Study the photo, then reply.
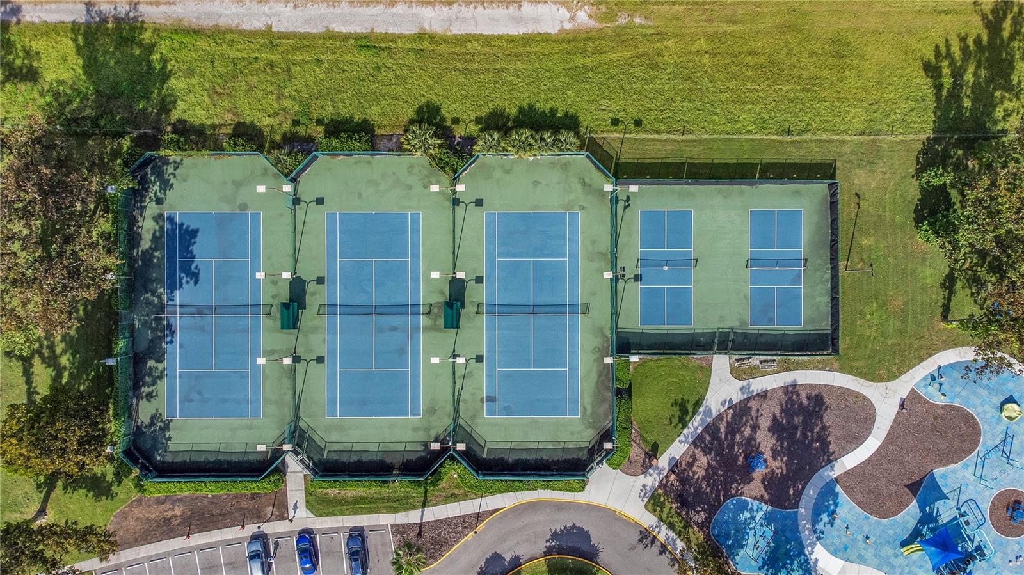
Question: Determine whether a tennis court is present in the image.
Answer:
Yes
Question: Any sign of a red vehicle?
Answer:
No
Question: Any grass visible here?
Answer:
Yes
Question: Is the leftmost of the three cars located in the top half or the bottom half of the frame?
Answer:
bottom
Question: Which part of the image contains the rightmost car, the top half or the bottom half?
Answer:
bottom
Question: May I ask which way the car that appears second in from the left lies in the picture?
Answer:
from top to bottom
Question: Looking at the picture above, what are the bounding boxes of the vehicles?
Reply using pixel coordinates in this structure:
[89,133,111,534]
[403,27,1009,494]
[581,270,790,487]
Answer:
[343,533,367,575]
[296,534,318,574]
[247,539,271,575]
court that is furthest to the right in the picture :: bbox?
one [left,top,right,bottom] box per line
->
[721,184,830,353]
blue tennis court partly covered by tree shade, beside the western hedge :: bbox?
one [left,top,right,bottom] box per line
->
[133,157,298,474]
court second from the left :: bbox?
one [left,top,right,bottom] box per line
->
[296,157,453,472]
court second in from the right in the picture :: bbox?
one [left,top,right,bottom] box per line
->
[615,183,721,353]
